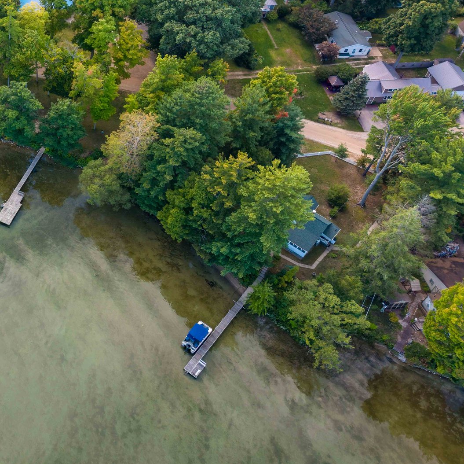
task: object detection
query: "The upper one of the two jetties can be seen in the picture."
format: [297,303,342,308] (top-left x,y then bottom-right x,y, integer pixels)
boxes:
[0,147,45,228]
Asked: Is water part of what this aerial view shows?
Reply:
Yes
